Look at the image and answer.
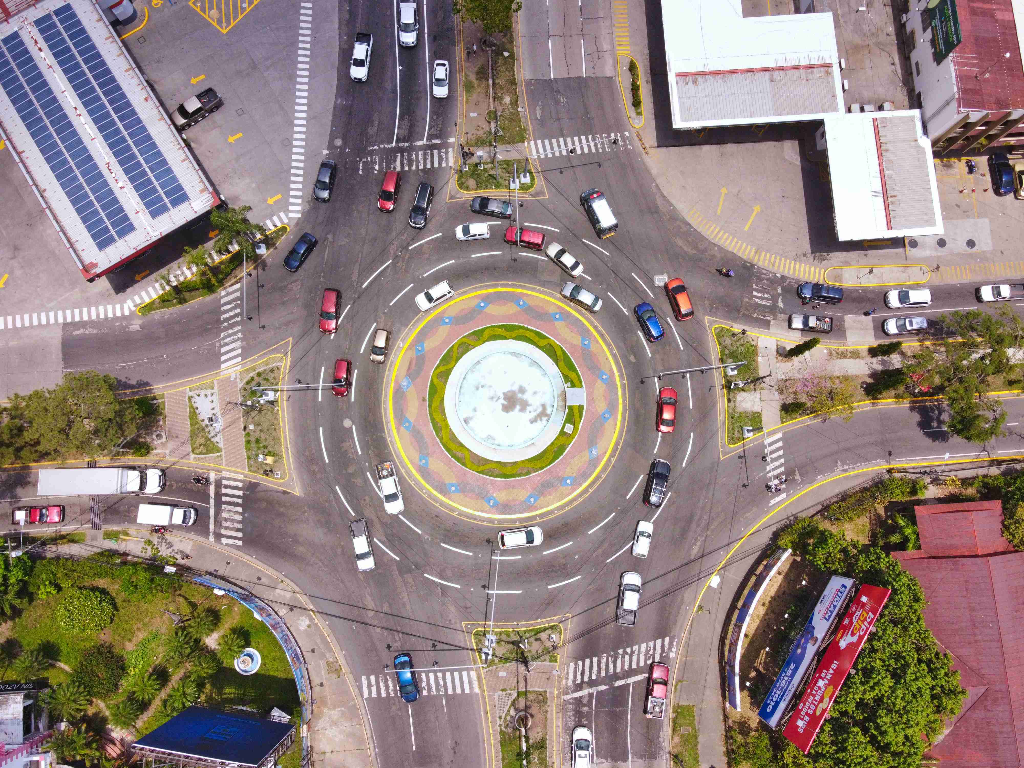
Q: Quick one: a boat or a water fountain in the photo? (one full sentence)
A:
Visible in the photo is a water fountain.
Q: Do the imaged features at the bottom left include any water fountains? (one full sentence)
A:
Yes, looking at the bottom left, one can make out a water fountain.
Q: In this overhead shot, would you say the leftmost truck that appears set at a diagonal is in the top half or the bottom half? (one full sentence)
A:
The leftmost truck that appears set at a diagonal sits in the top half of the picture.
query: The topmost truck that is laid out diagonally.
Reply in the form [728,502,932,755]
[172,87,225,129]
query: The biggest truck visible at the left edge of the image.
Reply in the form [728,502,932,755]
[25,467,172,496]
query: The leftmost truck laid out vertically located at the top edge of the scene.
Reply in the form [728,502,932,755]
[349,31,373,84]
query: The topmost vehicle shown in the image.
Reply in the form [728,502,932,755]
[398,0,418,44]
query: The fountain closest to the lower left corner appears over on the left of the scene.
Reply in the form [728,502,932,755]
[232,648,261,678]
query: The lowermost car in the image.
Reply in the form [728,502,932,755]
[571,725,593,768]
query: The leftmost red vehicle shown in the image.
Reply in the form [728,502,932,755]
[10,504,68,525]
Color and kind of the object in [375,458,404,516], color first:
white truck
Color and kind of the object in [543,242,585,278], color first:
white car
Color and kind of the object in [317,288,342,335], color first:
red car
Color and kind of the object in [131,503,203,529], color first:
white truck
